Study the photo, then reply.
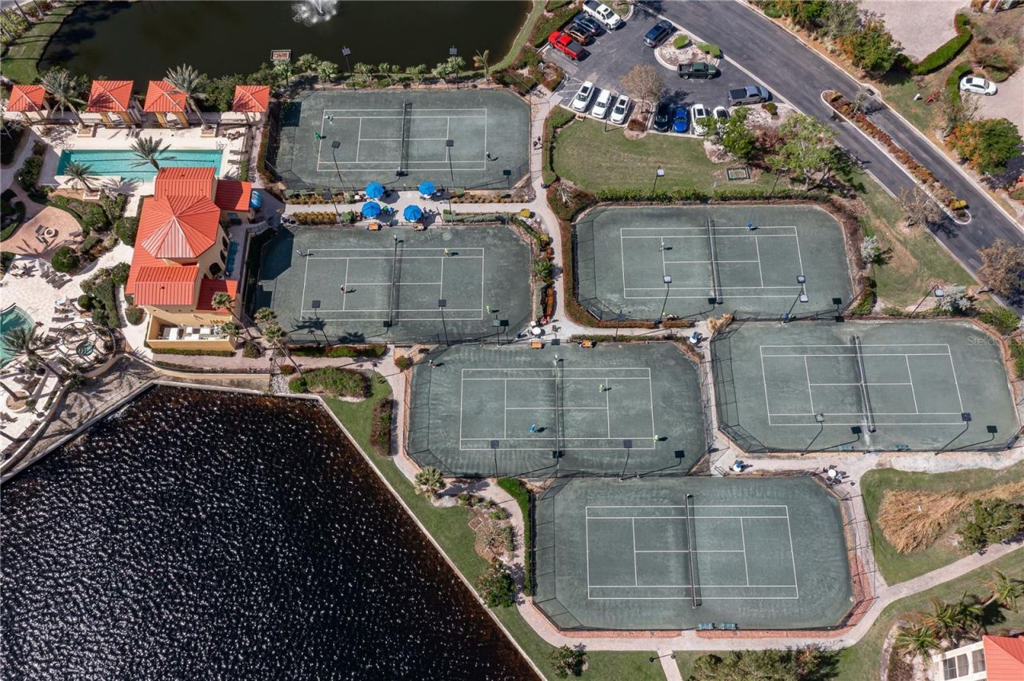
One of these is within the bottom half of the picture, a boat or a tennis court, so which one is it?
tennis court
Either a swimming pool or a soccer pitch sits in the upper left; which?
swimming pool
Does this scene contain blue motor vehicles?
Yes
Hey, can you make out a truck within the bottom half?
No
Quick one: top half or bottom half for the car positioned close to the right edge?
top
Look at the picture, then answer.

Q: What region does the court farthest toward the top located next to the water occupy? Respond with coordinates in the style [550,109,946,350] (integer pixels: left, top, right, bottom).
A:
[274,87,532,190]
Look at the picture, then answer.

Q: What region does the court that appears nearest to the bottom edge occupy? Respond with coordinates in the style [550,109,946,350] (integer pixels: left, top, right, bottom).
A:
[532,477,853,630]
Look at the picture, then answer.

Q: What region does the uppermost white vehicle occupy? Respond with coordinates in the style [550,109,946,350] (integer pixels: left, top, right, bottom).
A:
[582,0,622,31]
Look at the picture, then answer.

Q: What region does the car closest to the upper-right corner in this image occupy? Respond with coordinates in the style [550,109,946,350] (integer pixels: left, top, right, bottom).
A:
[960,76,997,97]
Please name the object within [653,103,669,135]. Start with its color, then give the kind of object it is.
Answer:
black car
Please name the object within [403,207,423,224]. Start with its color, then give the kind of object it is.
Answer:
blue umbrella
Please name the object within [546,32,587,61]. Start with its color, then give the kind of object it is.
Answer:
red truck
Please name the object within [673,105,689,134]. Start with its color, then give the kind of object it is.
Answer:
blue car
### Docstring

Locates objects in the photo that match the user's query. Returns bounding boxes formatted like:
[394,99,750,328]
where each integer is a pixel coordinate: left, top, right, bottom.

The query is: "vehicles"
[673,105,689,134]
[960,76,997,97]
[653,103,669,135]
[642,21,675,47]
[561,23,594,46]
[675,61,719,79]
[572,81,593,112]
[691,104,709,136]
[609,94,630,126]
[582,0,622,31]
[546,32,587,61]
[725,86,771,106]
[591,88,613,119]
[571,14,606,37]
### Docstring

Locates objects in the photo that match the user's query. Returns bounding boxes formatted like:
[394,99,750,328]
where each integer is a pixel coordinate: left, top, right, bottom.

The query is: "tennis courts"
[406,342,708,479]
[532,477,853,630]
[274,87,532,190]
[574,204,855,321]
[710,320,1021,454]
[254,224,531,344]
